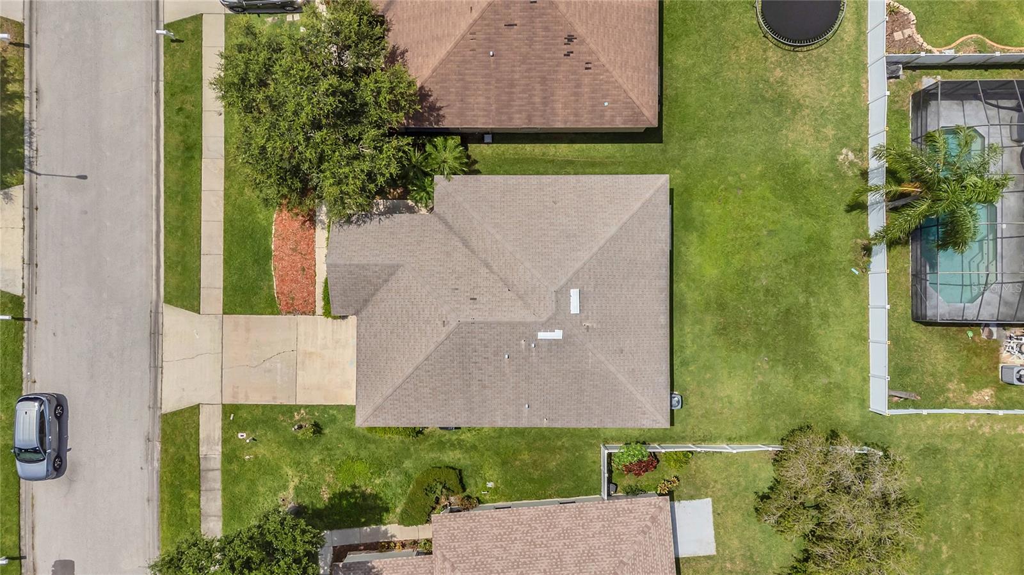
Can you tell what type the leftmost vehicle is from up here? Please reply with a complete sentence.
In the photo, the leftmost vehicle shows up as a car.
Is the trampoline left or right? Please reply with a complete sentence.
The trampoline sits on the right side.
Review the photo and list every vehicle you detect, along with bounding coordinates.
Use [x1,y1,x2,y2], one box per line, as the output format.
[220,0,306,13]
[11,393,64,480]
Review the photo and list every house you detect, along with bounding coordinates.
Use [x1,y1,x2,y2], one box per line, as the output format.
[331,488,676,575]
[325,174,670,428]
[322,0,658,133]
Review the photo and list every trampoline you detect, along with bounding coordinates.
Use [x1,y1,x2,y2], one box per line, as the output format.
[751,0,846,51]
